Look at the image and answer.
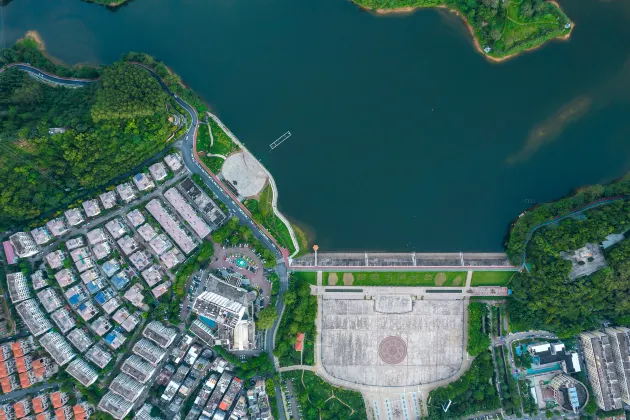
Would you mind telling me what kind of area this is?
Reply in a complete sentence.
What you see here is a residential area.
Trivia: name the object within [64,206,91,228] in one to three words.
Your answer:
house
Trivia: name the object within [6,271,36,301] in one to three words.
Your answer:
building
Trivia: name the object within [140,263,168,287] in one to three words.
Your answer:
house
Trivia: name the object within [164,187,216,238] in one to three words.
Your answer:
building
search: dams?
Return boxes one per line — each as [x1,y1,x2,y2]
[289,250,519,287]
